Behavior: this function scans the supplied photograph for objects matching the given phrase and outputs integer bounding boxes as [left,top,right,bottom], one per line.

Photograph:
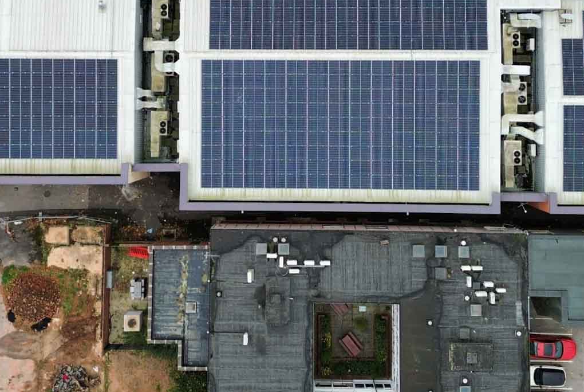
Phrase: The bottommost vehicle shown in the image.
[530,363,568,390]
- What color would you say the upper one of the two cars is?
red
